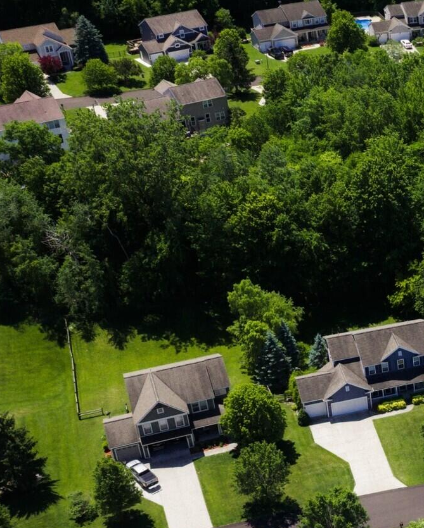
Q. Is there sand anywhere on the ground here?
No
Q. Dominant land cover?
trees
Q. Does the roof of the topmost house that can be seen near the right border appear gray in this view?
Yes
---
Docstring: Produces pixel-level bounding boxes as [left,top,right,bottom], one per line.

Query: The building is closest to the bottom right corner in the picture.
[293,323,424,418]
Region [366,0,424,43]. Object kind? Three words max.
house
